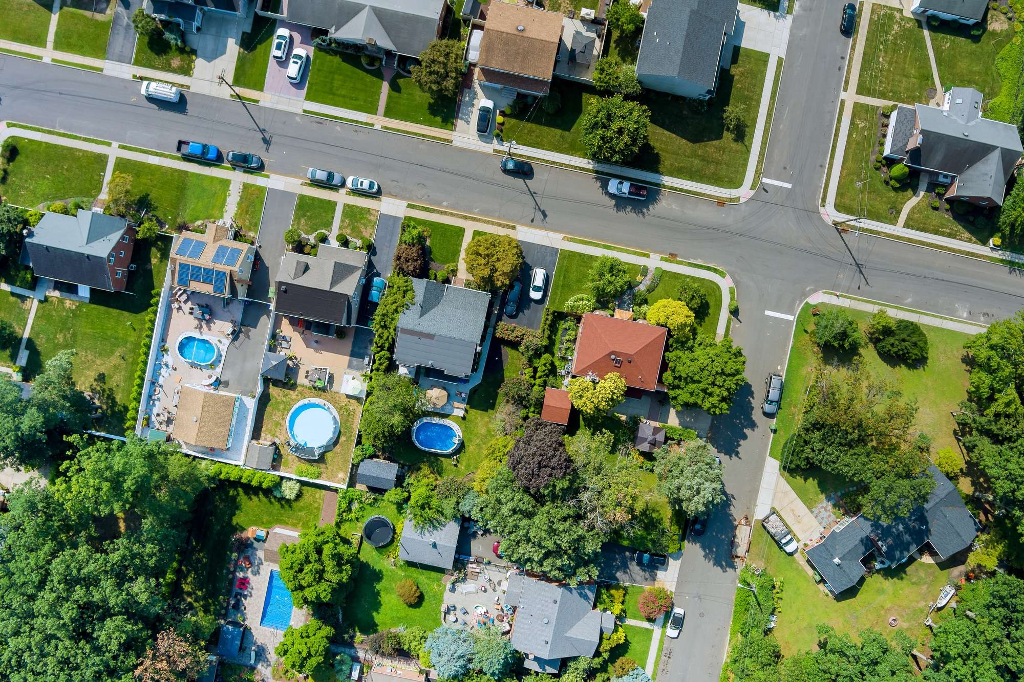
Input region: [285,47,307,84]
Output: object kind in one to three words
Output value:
car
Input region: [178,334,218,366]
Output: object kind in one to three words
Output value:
swimming pool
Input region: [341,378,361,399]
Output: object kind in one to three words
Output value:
umbrella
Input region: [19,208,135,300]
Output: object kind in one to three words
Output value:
house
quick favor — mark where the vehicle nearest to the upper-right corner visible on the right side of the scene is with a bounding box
[839,3,859,35]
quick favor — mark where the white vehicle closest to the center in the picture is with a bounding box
[529,266,547,301]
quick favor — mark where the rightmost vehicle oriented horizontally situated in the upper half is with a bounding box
[608,180,648,201]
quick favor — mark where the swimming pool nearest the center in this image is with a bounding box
[412,417,462,454]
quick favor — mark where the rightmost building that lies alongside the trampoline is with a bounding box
[398,512,463,570]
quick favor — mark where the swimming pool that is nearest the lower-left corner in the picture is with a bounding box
[258,567,293,633]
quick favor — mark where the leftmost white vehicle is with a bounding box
[141,79,182,103]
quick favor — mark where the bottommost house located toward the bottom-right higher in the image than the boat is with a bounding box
[801,457,982,594]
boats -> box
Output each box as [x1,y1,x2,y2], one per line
[936,582,959,609]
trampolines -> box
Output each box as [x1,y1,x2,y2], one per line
[360,514,395,550]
